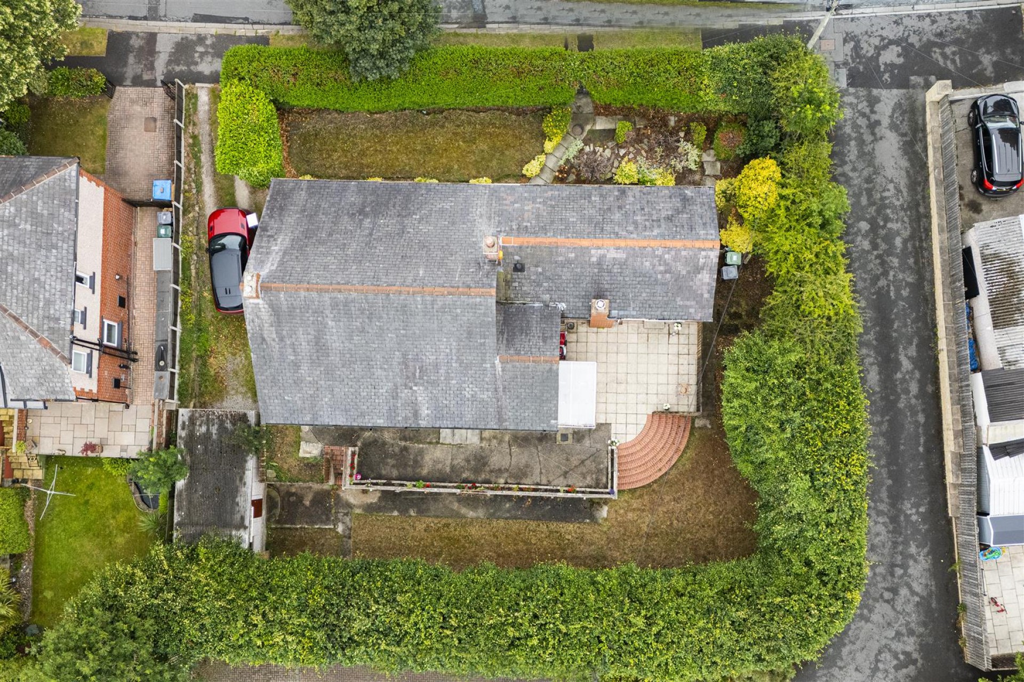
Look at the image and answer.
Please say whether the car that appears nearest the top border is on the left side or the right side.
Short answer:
right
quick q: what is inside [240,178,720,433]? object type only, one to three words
house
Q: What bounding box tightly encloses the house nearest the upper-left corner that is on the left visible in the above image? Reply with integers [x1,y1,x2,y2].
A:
[0,155,136,408]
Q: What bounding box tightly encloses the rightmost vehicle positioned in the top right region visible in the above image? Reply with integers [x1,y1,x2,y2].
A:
[967,95,1024,199]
